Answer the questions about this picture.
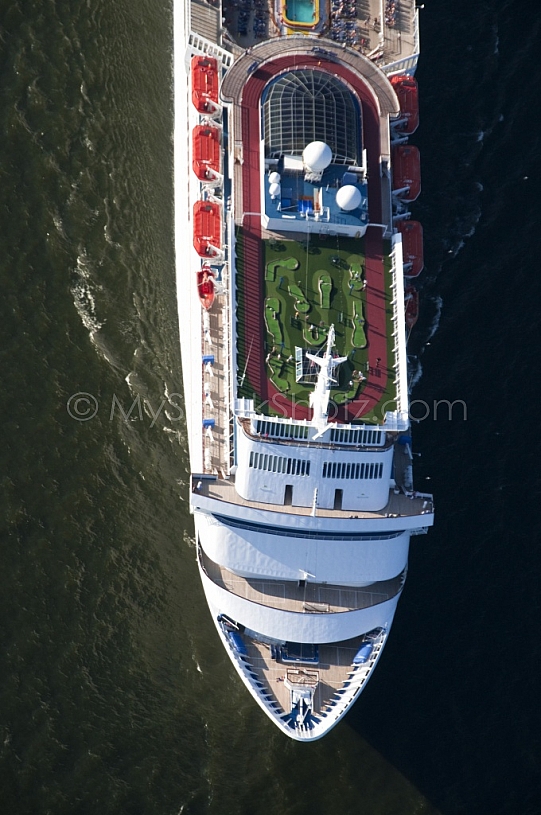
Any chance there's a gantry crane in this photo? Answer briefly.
No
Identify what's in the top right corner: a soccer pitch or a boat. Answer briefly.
boat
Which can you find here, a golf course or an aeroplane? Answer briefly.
golf course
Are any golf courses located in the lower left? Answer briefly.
No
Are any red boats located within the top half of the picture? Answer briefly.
Yes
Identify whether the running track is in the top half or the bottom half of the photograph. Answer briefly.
top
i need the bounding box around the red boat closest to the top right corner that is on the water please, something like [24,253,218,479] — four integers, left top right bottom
[389,69,417,126]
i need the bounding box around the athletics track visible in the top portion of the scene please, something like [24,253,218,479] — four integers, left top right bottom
[241,54,388,423]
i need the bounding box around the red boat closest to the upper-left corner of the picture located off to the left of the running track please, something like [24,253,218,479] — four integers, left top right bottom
[190,59,220,113]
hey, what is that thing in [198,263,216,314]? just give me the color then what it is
red boat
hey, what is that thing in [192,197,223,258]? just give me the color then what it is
red boat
